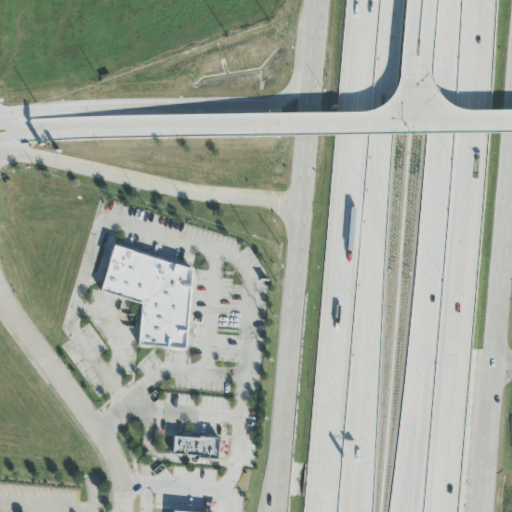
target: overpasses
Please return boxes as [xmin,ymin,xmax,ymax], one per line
[24,0,512,141]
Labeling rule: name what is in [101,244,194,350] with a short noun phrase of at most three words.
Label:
building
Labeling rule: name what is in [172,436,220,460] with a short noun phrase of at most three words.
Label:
building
